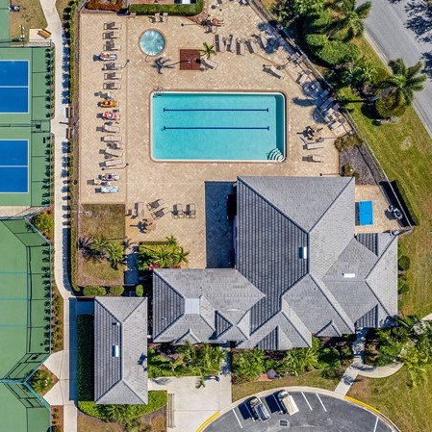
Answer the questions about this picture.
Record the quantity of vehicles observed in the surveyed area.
two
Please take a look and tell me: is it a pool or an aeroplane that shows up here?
pool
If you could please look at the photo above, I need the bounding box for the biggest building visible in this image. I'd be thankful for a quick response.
[152,174,400,351]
